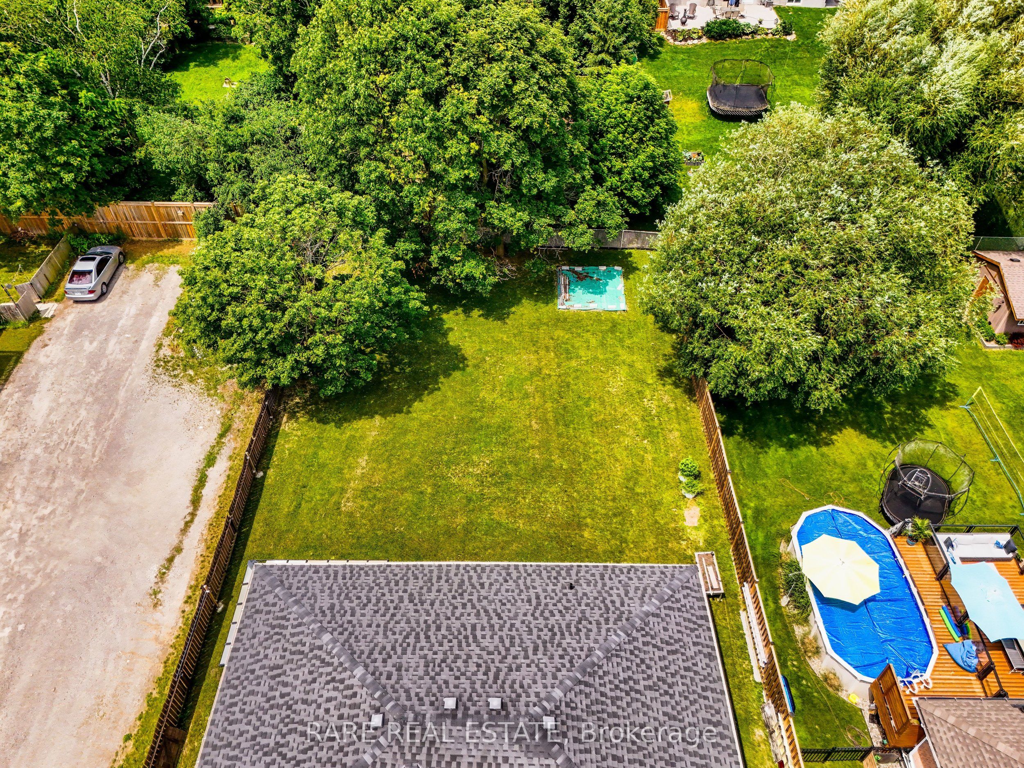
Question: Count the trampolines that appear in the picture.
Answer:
2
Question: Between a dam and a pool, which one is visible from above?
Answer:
pool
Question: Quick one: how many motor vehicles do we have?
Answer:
1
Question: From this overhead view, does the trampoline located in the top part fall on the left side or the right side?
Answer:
right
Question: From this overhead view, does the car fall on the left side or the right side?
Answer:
left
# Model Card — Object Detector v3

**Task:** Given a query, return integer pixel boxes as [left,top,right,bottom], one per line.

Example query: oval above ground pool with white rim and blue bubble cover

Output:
[782,504,940,703]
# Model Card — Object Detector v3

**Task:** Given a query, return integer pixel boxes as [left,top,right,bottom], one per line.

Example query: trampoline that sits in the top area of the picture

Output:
[702,60,779,124]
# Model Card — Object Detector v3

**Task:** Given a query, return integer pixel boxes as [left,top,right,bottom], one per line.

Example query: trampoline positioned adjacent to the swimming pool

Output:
[874,437,975,534]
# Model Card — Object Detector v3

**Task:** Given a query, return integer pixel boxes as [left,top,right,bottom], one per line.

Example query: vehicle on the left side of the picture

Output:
[57,243,125,306]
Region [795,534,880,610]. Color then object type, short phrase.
white umbrella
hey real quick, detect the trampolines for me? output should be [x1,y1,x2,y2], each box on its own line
[874,437,975,534]
[702,60,779,124]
